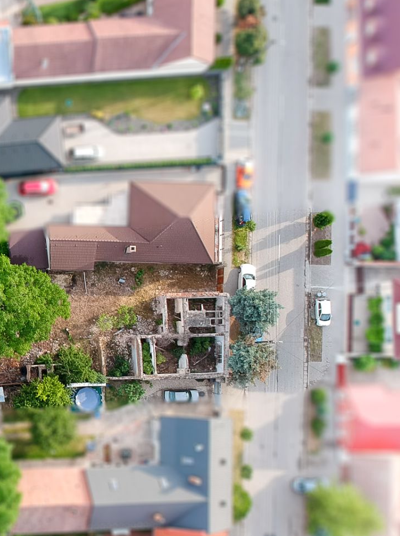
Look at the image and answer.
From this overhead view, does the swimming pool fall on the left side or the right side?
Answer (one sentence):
It is on the left.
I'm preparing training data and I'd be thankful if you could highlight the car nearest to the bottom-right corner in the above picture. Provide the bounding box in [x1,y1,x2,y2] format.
[290,477,322,493]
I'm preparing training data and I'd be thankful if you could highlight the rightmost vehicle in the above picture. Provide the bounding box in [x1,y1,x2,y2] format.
[314,297,332,328]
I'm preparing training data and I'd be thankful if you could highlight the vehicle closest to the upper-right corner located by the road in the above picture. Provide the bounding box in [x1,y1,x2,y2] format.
[235,160,254,193]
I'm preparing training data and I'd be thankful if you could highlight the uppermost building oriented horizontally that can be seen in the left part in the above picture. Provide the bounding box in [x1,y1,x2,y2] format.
[11,0,217,84]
